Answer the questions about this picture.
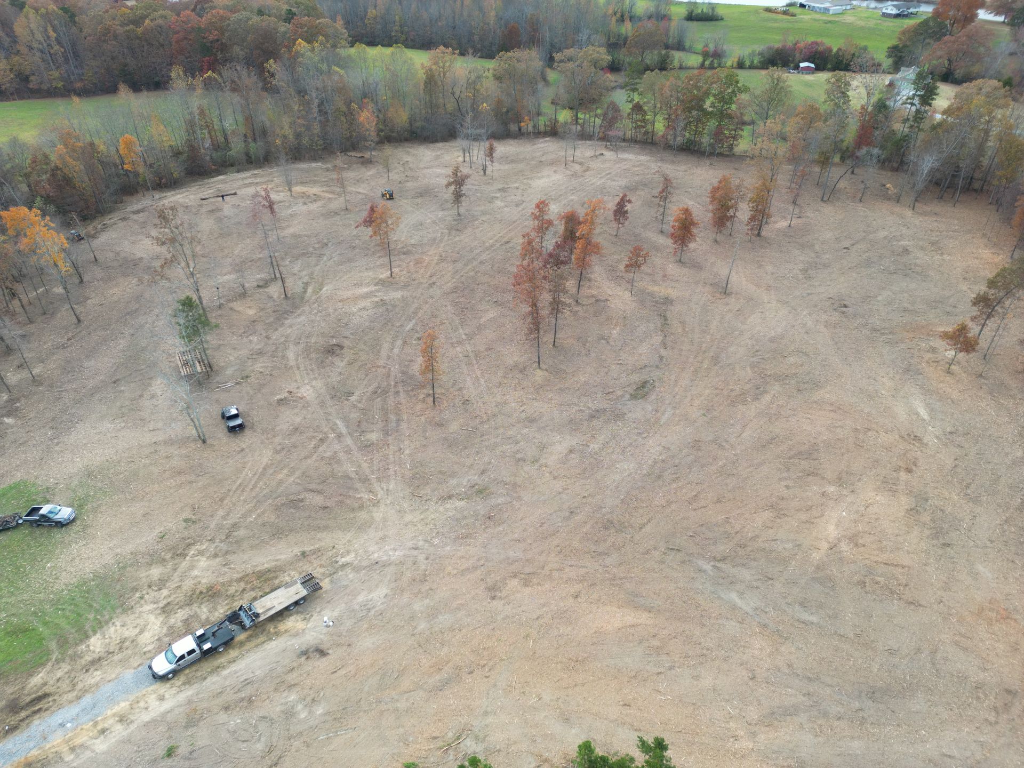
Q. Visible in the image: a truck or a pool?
truck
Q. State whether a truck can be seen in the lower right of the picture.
No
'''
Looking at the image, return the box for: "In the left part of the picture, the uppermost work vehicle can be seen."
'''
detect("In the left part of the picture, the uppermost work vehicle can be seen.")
[375,188,394,201]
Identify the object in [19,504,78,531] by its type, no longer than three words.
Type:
truck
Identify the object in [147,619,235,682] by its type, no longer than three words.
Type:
truck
